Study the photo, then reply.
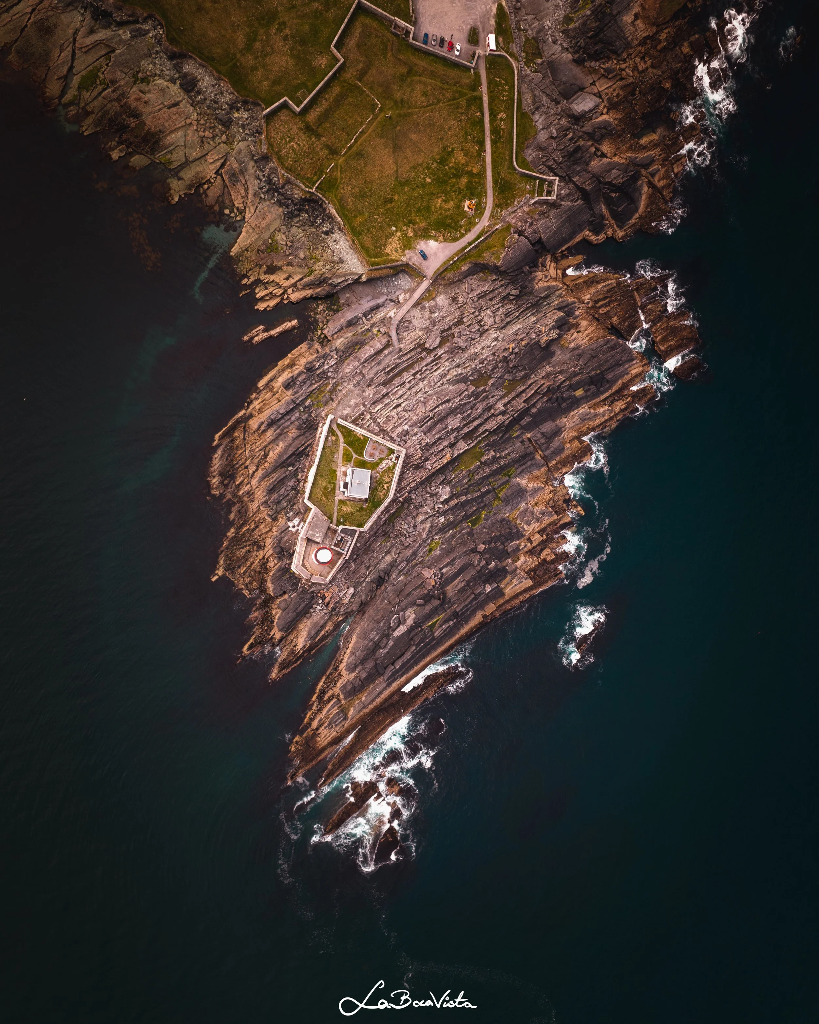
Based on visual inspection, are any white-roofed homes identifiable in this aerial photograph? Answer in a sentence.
Yes, the image includes a white-roofed home.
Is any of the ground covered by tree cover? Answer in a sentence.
No, there's no tree cover in this view.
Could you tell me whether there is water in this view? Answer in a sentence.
Yes, water can be seen from above here.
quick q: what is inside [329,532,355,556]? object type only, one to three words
building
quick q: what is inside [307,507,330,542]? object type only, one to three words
building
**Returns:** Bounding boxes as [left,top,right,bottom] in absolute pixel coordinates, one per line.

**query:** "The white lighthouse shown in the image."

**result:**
[312,545,333,566]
